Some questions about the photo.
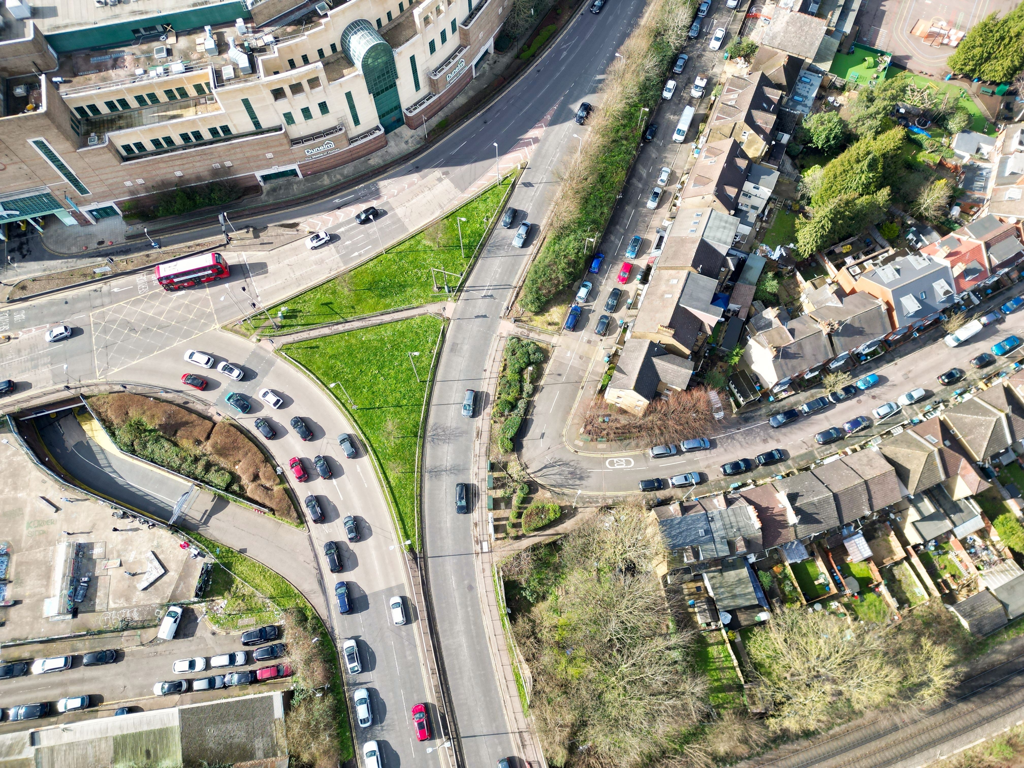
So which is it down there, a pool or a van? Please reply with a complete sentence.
The image shows a van.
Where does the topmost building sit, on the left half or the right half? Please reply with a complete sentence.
The topmost building sits on the right side.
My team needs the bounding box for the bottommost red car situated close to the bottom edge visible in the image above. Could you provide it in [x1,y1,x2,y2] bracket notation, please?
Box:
[412,704,433,742]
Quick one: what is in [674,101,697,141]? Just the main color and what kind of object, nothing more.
white vehicle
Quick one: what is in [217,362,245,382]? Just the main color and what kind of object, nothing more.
white car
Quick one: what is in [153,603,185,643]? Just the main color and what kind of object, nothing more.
white van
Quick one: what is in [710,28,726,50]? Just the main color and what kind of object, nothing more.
white car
